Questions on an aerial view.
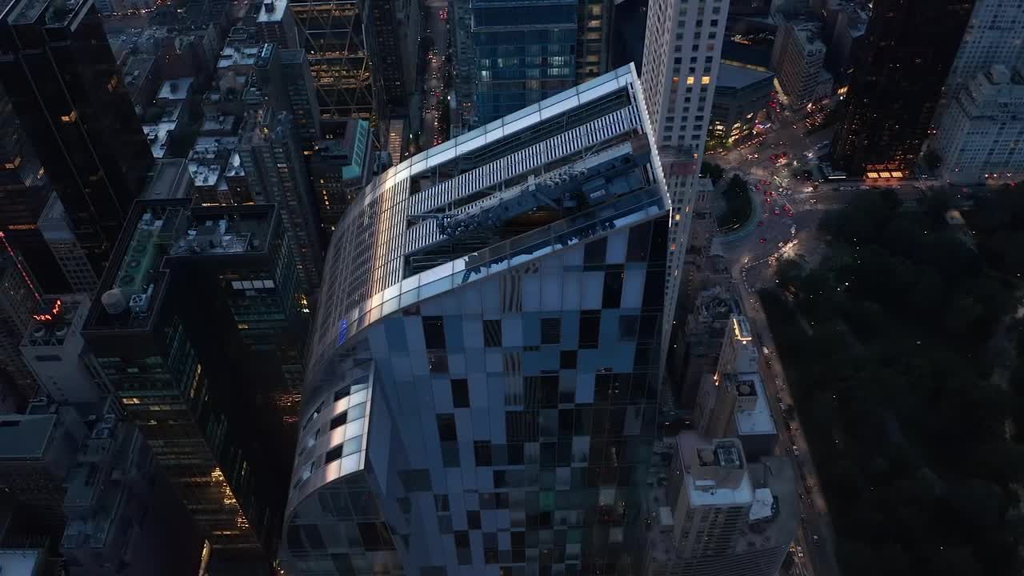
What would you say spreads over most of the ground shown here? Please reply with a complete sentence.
The largest share of the image is taken up by buildings.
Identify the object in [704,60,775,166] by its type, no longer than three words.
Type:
building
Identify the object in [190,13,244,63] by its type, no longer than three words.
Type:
building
